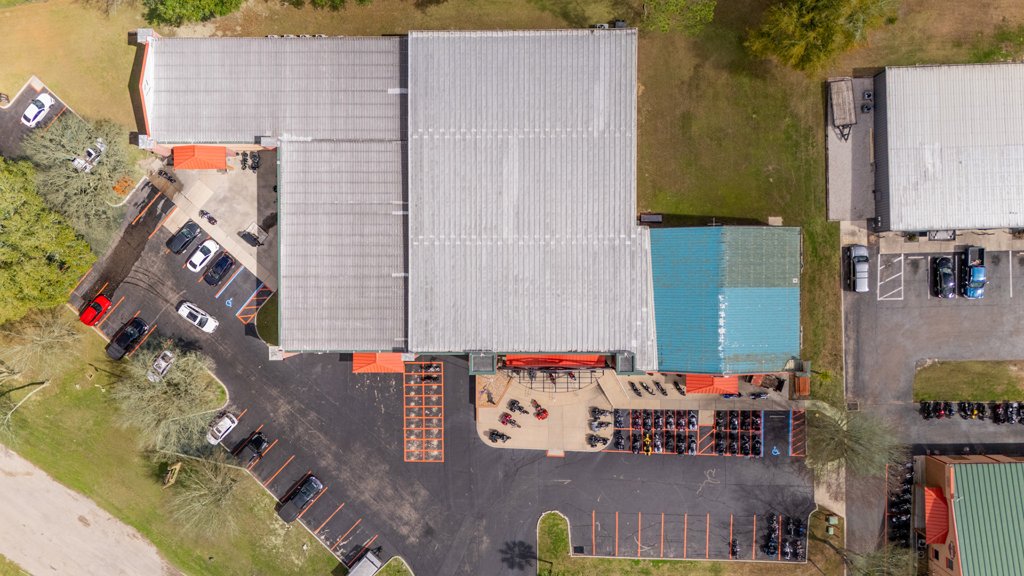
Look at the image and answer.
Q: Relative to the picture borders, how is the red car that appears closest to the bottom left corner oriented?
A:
at an angle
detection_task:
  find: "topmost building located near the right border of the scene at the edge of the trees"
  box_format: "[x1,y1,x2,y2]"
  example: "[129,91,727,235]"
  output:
[870,62,1024,233]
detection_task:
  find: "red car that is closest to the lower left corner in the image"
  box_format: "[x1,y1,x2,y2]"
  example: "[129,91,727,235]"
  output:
[76,292,115,331]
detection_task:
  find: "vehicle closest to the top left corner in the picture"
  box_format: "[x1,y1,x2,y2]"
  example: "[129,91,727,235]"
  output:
[19,91,57,129]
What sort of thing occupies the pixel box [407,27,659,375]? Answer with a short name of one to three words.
building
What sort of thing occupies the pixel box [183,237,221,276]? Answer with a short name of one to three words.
car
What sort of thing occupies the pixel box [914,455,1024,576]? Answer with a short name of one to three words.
building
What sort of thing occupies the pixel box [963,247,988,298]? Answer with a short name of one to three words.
truck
